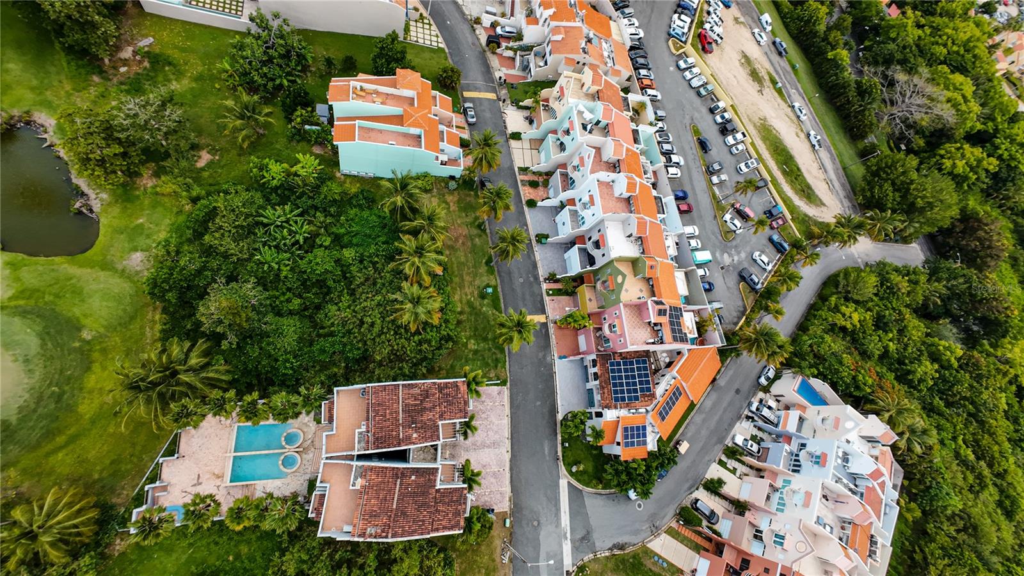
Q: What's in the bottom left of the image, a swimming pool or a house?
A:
swimming pool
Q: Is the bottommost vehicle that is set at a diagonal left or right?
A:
right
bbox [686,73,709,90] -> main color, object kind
white car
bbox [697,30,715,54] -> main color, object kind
red vehicle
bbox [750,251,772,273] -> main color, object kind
white car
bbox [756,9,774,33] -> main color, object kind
white vehicle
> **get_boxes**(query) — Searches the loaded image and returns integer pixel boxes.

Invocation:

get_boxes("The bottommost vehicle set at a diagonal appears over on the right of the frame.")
[689,495,718,527]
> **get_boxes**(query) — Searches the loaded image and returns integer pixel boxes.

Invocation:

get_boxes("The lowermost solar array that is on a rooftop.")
[624,426,648,449]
